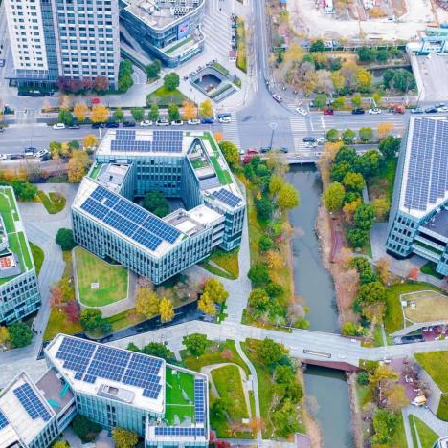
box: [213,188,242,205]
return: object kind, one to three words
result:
solar array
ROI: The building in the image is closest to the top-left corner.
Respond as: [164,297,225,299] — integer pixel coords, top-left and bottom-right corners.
[2,0,119,92]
